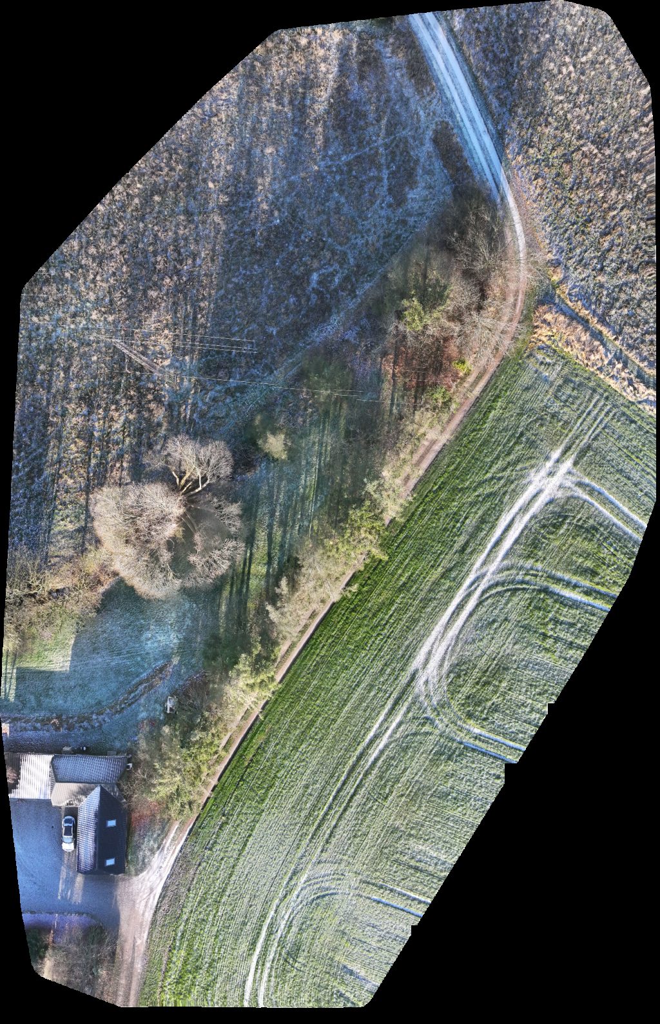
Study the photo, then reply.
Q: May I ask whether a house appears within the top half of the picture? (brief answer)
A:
No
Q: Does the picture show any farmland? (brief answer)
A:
Yes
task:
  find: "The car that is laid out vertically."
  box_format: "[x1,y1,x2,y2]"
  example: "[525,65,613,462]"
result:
[59,814,77,851]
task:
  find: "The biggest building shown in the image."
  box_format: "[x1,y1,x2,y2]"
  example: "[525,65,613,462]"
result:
[51,751,129,876]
